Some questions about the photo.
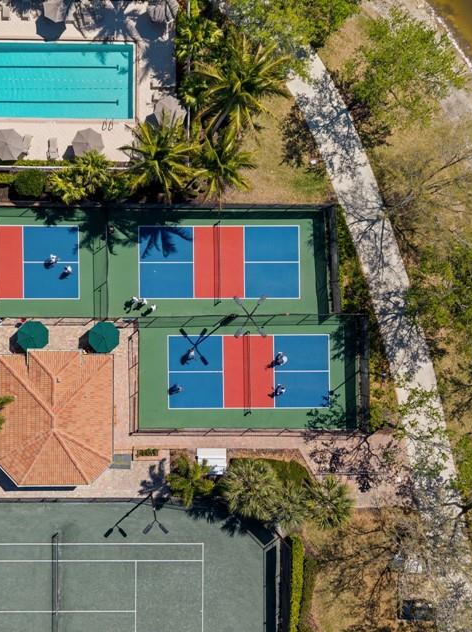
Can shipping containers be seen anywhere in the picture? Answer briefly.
No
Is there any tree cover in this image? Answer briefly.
Yes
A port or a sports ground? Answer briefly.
sports ground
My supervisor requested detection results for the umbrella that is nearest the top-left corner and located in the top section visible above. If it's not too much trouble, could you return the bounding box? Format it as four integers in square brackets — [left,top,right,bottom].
[41,0,76,33]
